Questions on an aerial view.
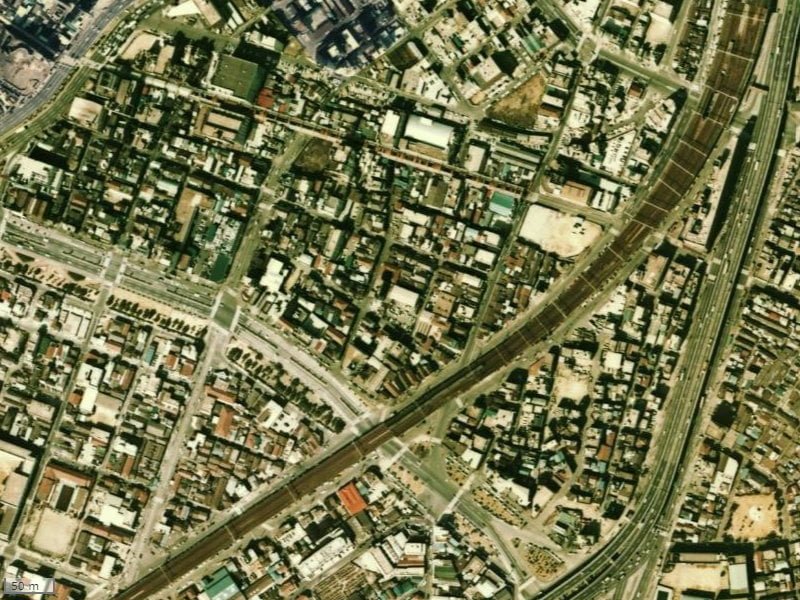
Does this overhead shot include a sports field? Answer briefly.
Yes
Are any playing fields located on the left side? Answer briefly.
No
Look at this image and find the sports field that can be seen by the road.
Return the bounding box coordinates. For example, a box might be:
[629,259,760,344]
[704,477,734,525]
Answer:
[520,205,603,256]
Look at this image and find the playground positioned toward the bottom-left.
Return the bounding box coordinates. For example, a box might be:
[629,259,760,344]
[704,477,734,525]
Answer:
[33,508,80,557]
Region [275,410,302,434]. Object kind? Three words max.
building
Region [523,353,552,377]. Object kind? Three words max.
building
